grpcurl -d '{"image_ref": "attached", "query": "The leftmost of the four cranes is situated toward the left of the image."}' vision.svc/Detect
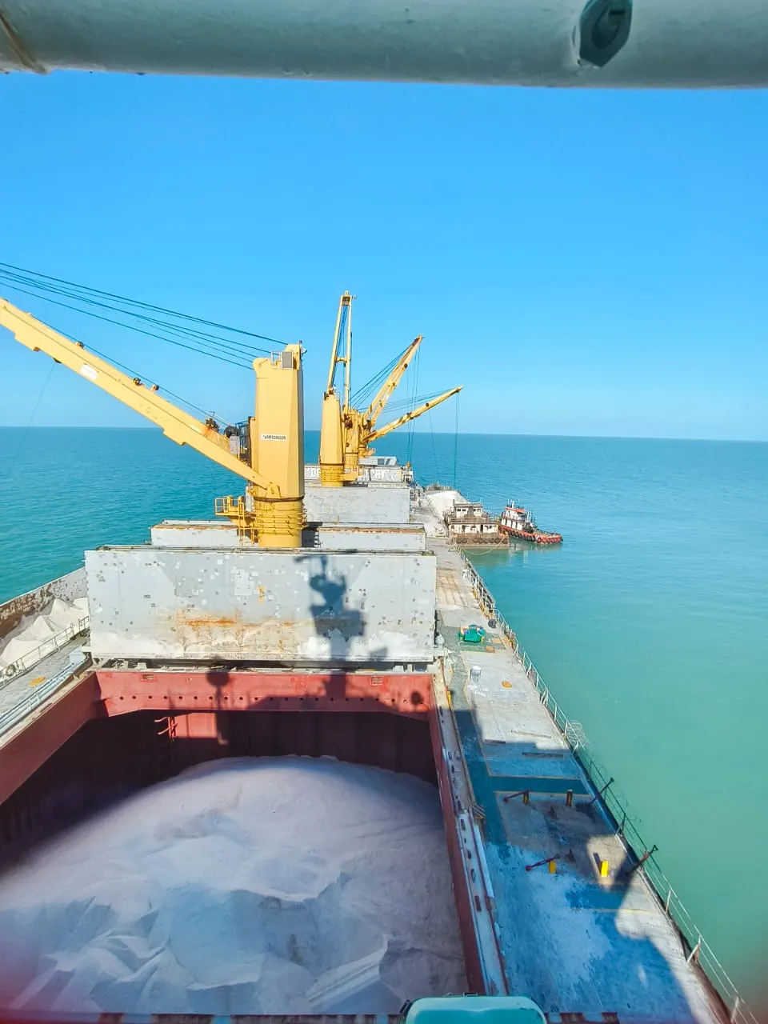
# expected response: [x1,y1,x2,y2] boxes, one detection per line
[0,244,310,669]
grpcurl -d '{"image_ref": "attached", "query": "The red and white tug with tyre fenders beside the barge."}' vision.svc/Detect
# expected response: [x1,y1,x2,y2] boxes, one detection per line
[498,494,565,544]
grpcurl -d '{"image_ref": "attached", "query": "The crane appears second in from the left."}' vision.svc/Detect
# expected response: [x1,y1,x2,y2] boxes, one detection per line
[318,289,364,485]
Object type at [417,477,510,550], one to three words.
ship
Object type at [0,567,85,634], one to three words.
ship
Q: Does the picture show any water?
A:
Yes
